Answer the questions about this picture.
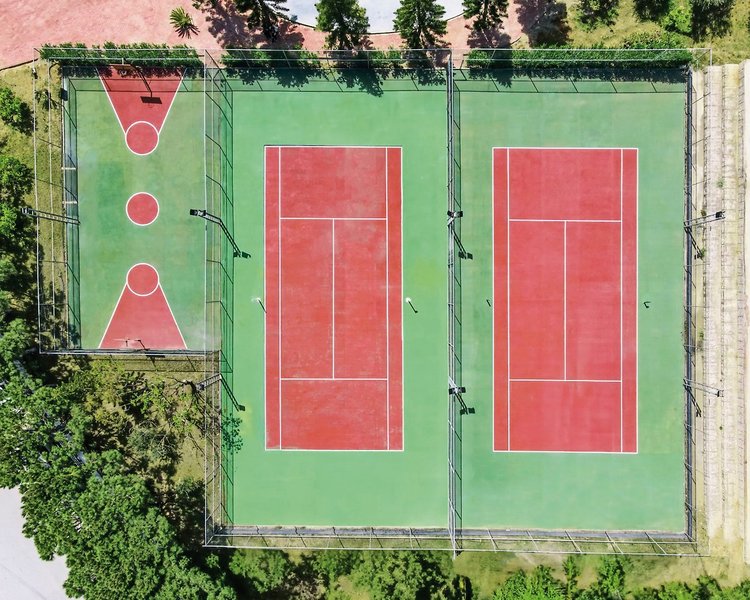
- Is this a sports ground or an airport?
sports ground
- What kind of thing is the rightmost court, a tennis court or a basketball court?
tennis court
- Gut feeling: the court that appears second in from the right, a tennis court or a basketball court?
tennis court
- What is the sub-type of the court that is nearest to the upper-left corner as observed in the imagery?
basketball court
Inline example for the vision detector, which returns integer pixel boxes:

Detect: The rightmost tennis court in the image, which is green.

[448,68,685,533]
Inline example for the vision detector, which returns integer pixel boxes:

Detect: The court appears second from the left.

[222,69,448,529]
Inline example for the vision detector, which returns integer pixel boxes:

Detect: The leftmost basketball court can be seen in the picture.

[63,68,221,351]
